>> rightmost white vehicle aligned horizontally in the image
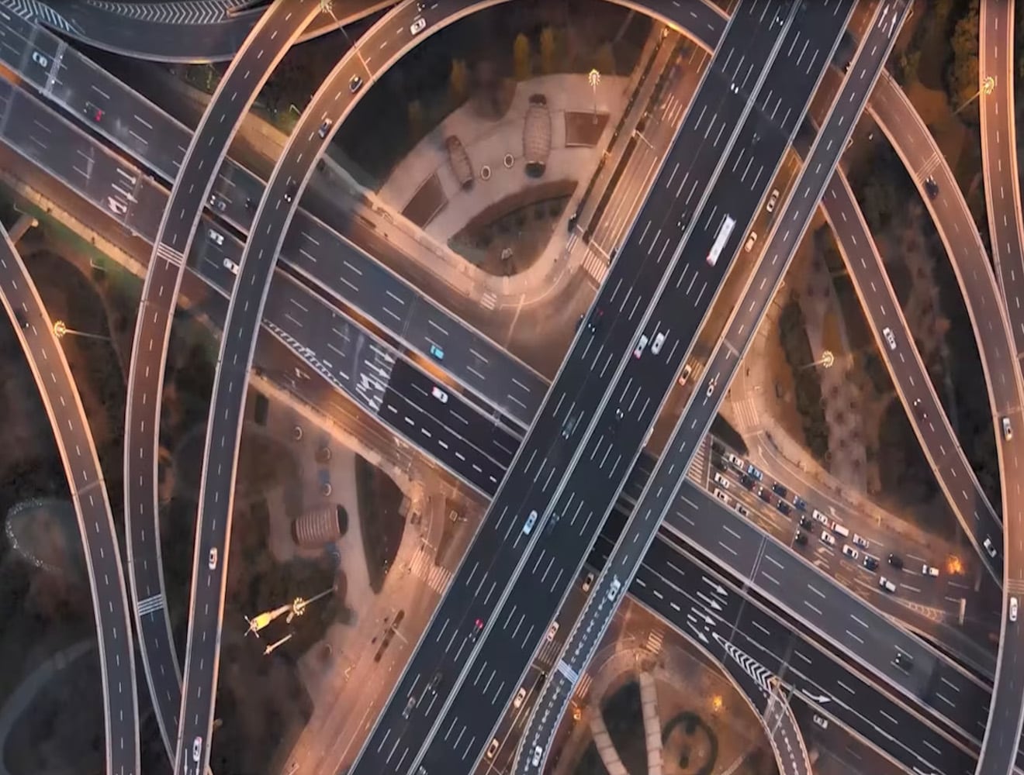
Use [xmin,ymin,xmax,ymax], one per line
[918,565,943,578]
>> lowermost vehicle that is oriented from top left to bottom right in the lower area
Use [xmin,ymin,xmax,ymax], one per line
[811,714,830,730]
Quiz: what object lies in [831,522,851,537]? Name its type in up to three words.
vehicle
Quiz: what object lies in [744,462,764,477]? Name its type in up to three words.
car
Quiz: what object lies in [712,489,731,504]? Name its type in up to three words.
car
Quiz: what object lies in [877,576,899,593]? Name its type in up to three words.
vehicle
